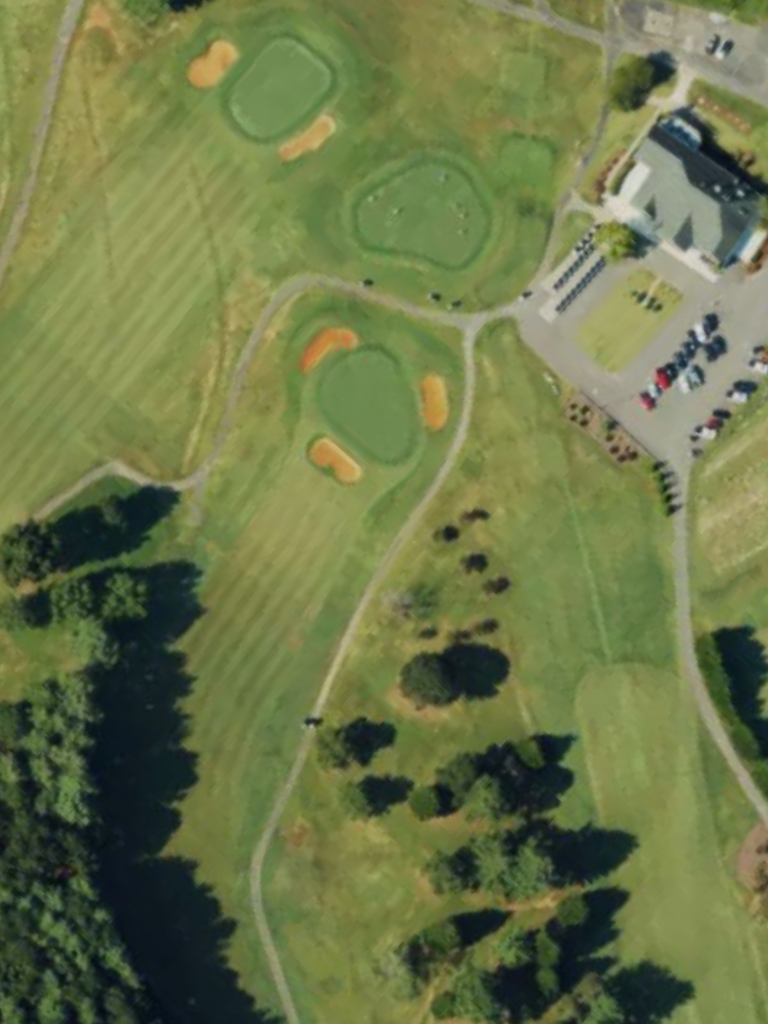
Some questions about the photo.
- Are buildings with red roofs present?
No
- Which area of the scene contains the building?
top right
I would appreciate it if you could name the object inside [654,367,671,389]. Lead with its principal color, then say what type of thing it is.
red car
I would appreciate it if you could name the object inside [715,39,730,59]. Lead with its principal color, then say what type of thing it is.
white car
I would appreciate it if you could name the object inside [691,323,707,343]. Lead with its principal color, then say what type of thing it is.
white car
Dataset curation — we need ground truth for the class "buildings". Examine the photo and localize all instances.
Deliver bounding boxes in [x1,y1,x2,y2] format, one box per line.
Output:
[618,117,766,264]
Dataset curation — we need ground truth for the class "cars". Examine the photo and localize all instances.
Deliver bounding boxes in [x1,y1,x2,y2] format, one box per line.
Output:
[685,366,702,388]
[645,379,661,399]
[751,361,768,374]
[676,373,692,393]
[758,354,768,364]
[680,339,696,359]
[715,39,730,59]
[685,330,701,350]
[654,367,671,389]
[691,323,707,343]
[639,391,655,411]
[704,35,718,55]
[705,418,725,429]
[711,409,732,421]
[751,345,768,355]
[704,311,718,334]
[663,361,679,381]
[672,350,689,371]
[708,336,725,357]
[696,426,717,438]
